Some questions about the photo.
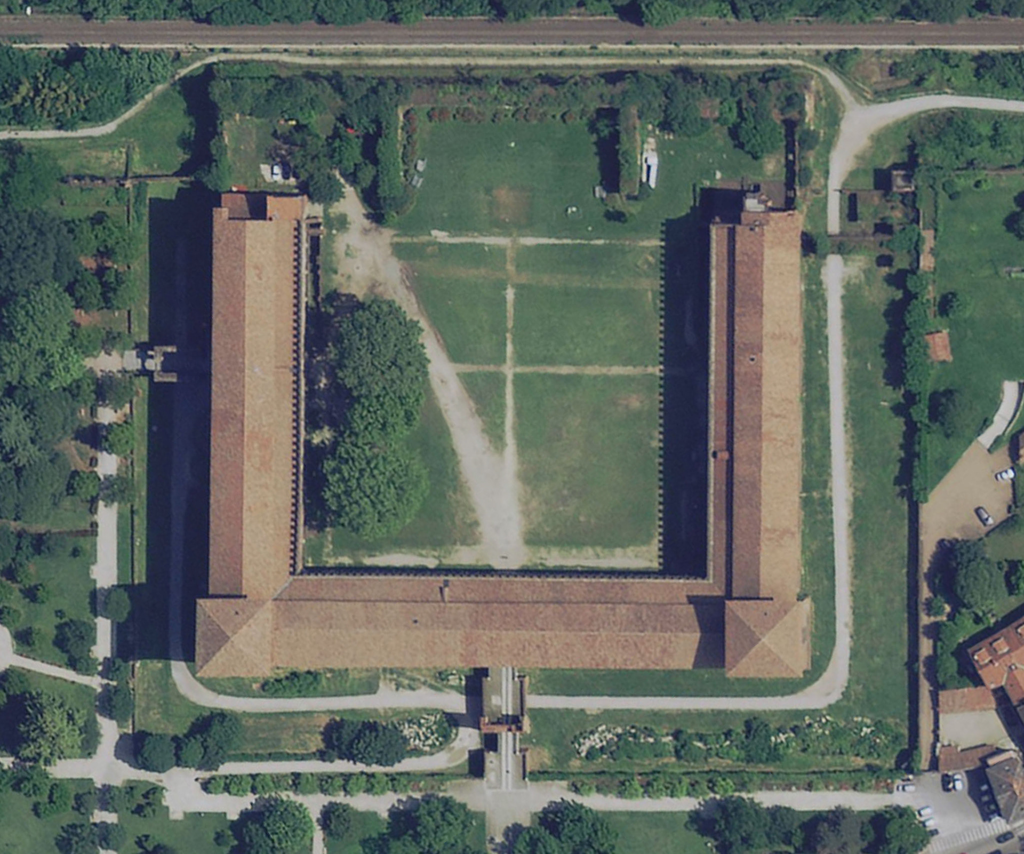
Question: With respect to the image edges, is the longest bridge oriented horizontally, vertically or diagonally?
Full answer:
In this picture, the longest bridge lies vertically.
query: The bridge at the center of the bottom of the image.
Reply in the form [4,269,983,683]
[482,668,527,790]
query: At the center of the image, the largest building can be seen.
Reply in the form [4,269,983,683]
[197,184,811,677]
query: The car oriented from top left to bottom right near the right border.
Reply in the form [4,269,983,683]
[977,507,992,526]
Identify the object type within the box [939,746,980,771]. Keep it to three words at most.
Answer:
shed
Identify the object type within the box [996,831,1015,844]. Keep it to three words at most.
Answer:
vehicle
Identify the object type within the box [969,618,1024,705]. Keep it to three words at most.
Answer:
house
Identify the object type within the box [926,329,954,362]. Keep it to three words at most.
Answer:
house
